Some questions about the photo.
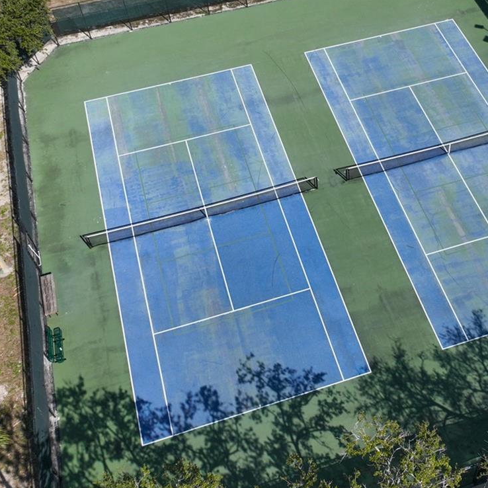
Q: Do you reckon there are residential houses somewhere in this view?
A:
No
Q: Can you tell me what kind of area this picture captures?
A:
sports ground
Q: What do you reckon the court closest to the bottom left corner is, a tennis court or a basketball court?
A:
tennis court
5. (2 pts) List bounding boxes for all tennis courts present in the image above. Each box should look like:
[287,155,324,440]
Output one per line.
[305,20,488,348]
[86,64,370,444]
